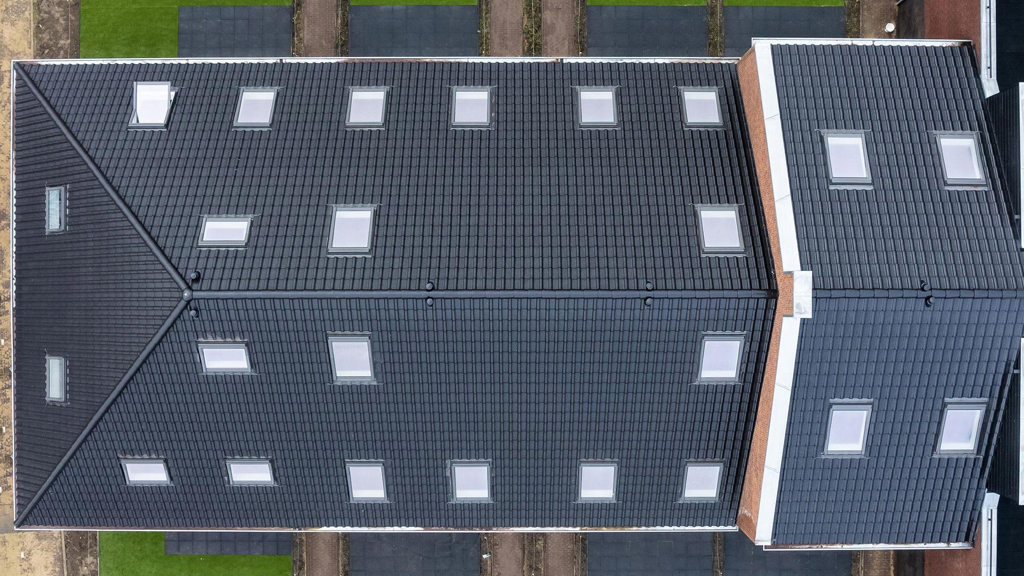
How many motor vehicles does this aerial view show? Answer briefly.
0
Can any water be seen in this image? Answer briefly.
No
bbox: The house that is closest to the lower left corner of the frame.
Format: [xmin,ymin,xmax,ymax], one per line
[10,57,778,531]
